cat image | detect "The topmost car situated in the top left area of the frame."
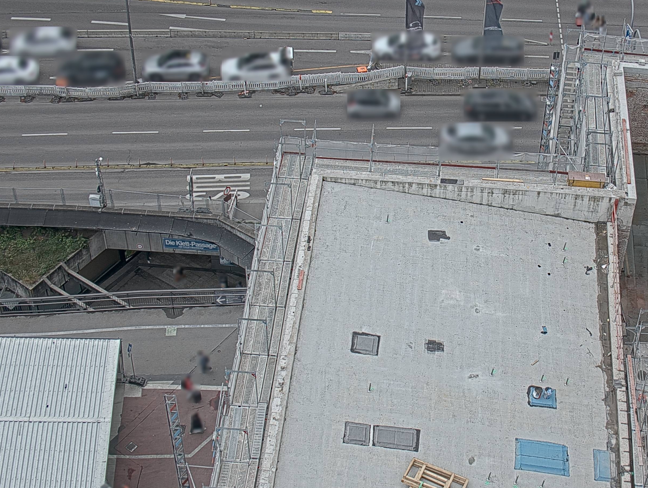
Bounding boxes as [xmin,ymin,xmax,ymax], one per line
[7,24,78,54]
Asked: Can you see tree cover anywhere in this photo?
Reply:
No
